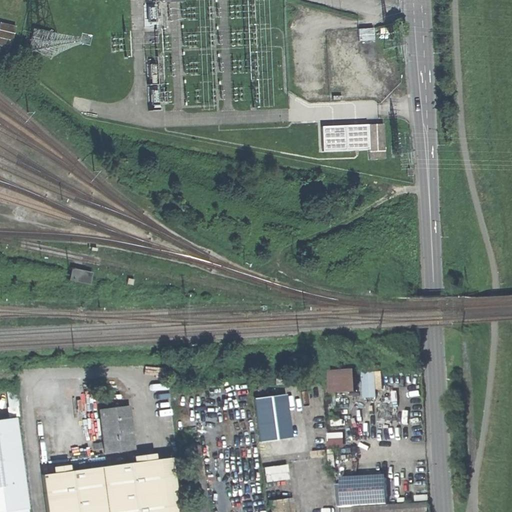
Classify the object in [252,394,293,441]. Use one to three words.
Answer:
building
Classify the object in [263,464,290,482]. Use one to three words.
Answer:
shed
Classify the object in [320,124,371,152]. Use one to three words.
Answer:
building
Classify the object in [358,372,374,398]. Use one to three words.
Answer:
shed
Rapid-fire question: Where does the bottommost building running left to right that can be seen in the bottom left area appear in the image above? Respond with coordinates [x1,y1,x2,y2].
[41,454,180,512]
